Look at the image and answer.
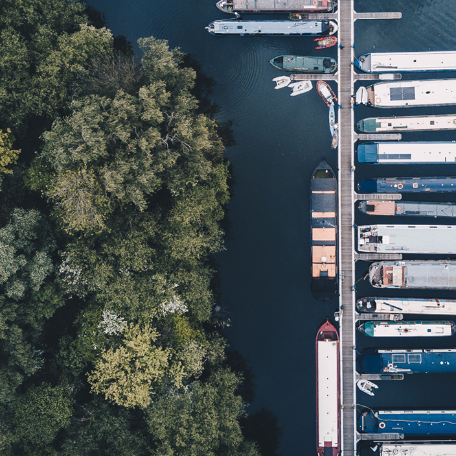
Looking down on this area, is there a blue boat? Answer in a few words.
Yes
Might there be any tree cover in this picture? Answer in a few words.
Yes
